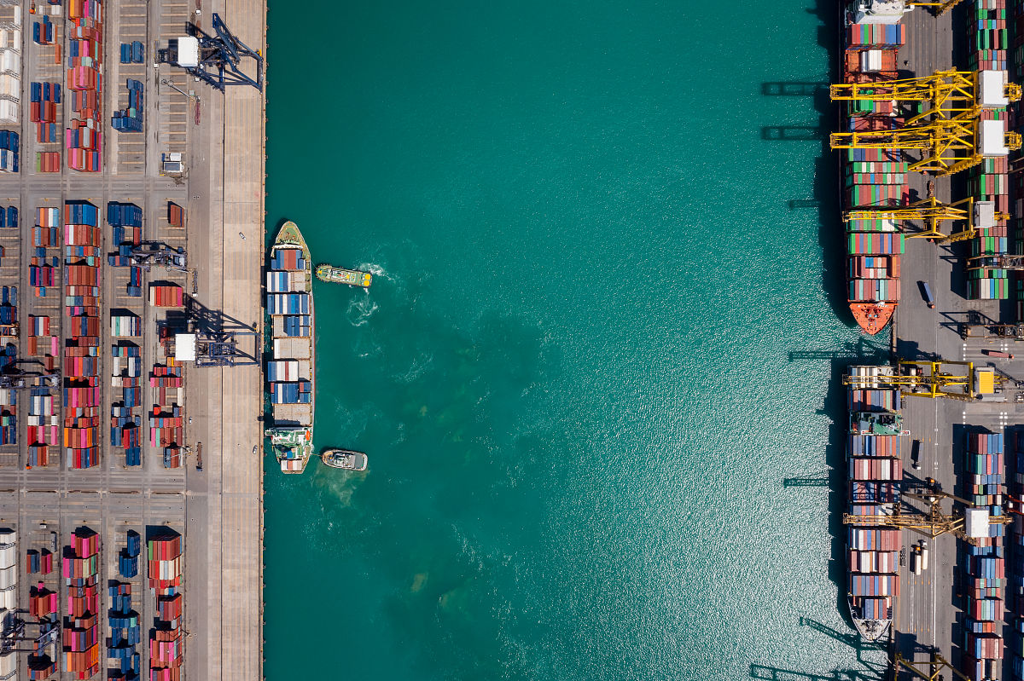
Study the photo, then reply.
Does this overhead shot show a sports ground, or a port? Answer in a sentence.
This looks like a port.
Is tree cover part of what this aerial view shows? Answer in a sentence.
No, no tree cover is visible.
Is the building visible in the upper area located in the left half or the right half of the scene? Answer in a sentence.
The building visible in the upper area is on the left side of the image.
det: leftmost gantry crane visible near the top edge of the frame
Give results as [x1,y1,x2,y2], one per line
[170,11,262,96]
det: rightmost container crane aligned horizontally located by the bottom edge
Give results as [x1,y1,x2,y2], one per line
[898,652,970,681]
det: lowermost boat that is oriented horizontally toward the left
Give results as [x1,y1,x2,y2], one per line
[321,450,369,471]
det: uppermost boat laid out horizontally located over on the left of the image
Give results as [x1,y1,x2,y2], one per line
[316,262,373,286]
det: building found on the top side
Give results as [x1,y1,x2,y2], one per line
[160,151,184,175]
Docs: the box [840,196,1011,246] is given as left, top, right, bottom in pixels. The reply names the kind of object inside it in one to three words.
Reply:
container crane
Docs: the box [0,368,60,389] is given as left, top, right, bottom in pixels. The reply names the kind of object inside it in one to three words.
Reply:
container crane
